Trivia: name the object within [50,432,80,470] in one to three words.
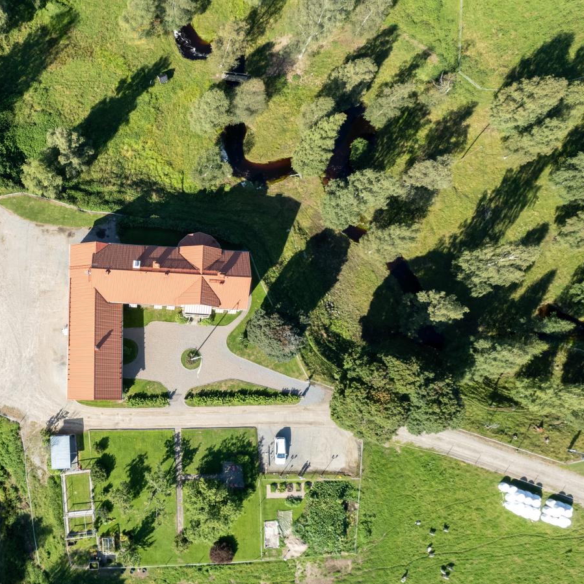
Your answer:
shed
